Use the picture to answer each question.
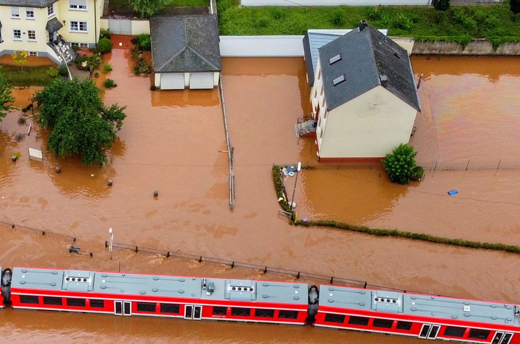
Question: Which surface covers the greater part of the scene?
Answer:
water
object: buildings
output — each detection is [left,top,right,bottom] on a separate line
[0,0,105,66]
[285,15,424,160]
[240,0,434,10]
[151,15,222,90]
